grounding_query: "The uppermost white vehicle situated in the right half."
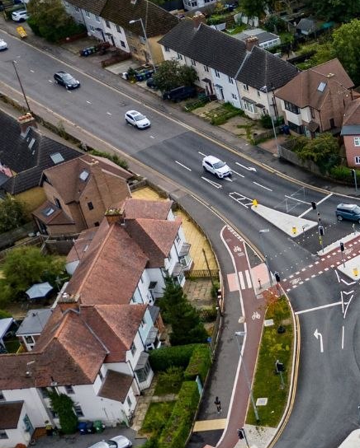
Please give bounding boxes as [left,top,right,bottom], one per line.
[199,153,233,178]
